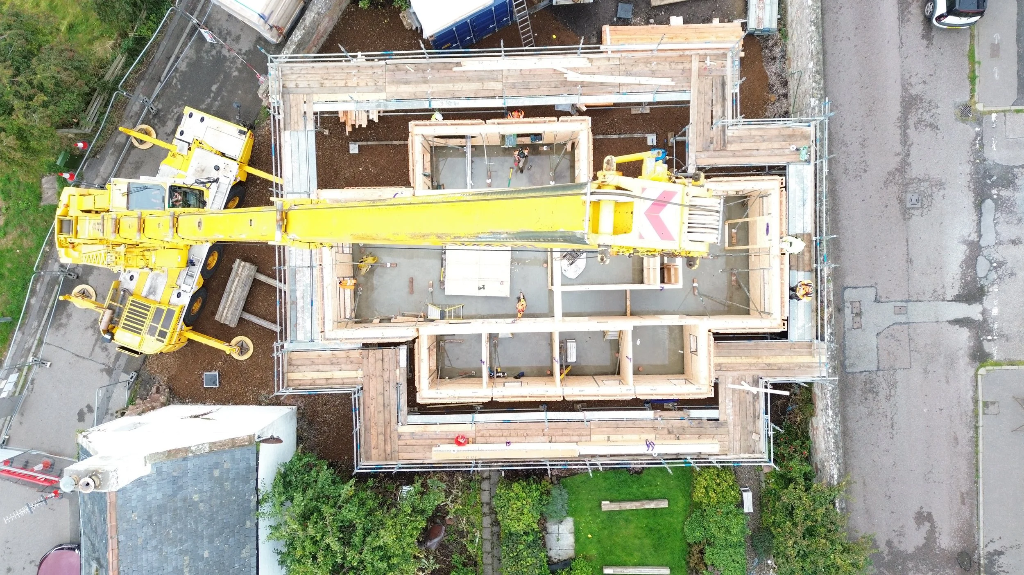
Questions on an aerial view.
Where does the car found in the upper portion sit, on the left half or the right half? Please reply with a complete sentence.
The car found in the upper portion sits on the right side.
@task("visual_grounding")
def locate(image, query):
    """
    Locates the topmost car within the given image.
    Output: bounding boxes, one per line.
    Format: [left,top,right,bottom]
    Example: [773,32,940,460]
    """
[925,0,987,28]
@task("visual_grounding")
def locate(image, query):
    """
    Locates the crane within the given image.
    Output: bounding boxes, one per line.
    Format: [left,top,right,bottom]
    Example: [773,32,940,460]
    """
[55,102,727,358]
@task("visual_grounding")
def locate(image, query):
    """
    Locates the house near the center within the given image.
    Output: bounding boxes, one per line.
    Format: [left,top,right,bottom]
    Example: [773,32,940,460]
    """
[319,117,784,401]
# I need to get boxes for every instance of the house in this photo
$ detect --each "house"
[51,404,300,575]
[319,117,784,401]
